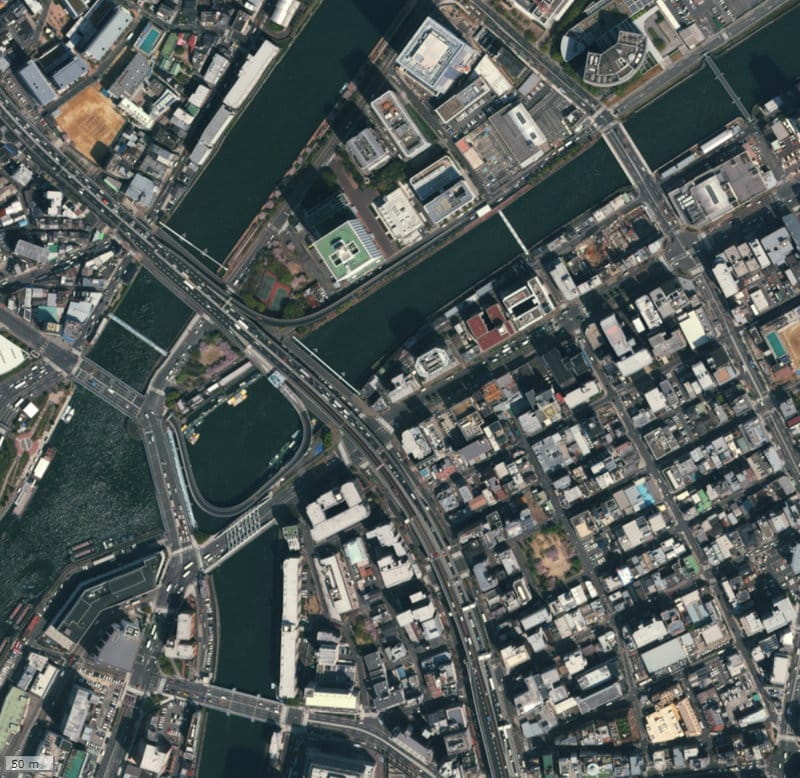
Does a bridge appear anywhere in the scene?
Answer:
Yes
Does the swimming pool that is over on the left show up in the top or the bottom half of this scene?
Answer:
top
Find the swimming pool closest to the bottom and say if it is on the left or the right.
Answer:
right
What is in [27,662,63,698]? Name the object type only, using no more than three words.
building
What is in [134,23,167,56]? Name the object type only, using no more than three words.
swimming pool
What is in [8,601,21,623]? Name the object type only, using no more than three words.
ship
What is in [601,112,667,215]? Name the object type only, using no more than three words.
bridge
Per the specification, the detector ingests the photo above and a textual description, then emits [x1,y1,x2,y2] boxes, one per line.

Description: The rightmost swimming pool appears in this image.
[765,329,788,360]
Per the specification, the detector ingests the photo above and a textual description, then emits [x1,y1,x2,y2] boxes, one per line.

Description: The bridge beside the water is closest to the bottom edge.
[159,676,295,726]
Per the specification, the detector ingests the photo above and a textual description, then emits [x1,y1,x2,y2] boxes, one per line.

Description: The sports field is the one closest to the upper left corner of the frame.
[58,83,125,164]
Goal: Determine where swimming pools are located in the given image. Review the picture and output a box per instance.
[134,23,167,56]
[765,329,788,360]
